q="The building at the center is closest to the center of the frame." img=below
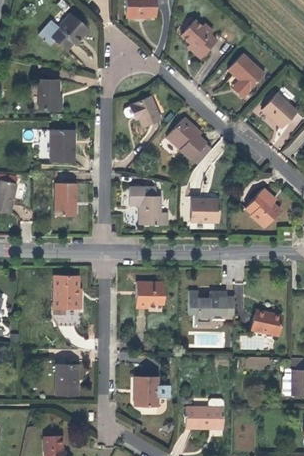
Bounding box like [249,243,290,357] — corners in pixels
[130,186,169,226]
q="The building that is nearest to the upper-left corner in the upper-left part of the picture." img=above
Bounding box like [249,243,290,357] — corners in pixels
[38,13,90,52]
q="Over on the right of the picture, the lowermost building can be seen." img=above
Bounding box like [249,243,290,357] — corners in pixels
[185,398,225,438]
